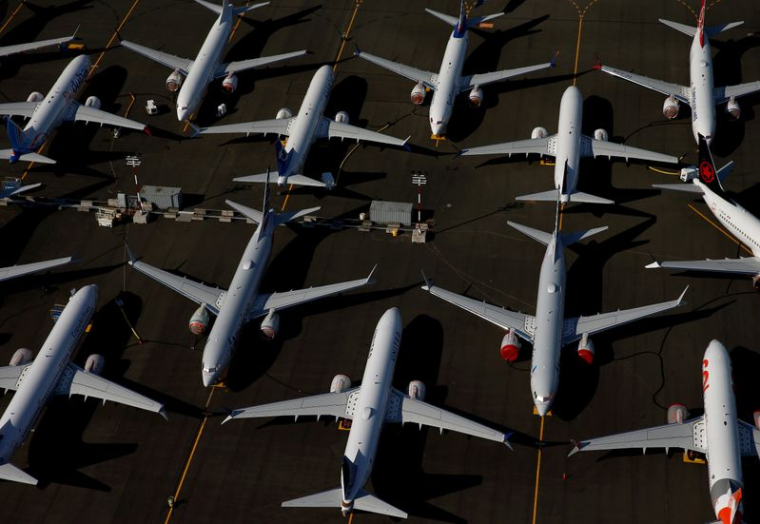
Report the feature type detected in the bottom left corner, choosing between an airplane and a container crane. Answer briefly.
airplane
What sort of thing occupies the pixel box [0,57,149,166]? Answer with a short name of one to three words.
airplane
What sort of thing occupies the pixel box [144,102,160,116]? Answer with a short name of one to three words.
vehicle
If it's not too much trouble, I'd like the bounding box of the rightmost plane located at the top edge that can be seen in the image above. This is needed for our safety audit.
[594,0,760,154]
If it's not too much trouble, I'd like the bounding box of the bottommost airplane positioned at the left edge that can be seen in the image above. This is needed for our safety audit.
[0,286,167,486]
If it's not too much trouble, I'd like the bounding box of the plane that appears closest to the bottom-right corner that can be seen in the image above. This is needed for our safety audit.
[570,341,760,524]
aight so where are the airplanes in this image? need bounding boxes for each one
[451,87,688,206]
[0,0,79,56]
[0,286,167,486]
[218,310,515,522]
[0,57,149,166]
[649,134,760,288]
[114,0,314,124]
[570,341,760,524]
[594,0,760,154]
[188,67,412,188]
[421,182,689,418]
[353,0,560,138]
[126,163,378,387]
